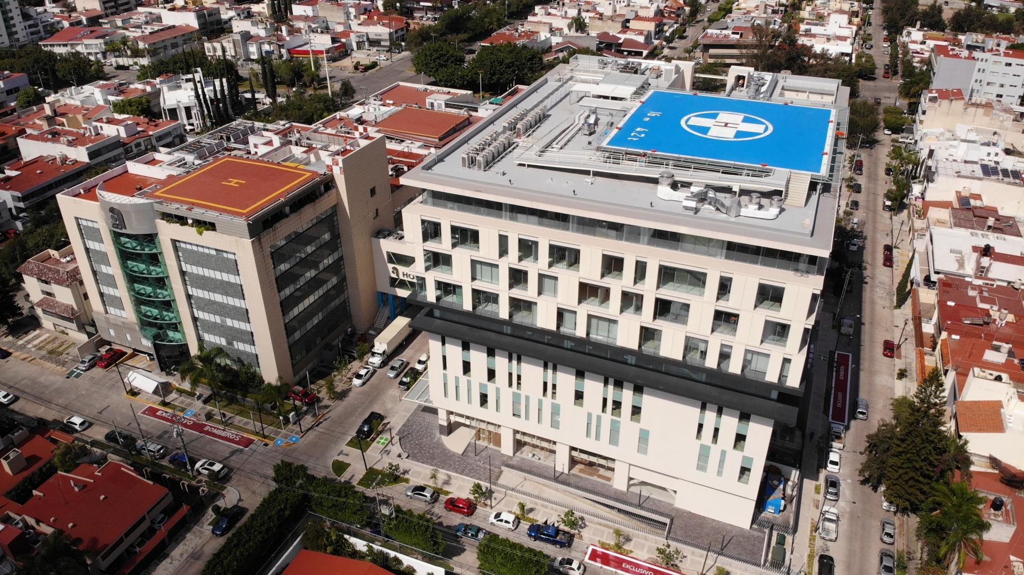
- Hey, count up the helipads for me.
2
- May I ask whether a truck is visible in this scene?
Yes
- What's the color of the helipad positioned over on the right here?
blue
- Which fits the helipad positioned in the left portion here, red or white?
red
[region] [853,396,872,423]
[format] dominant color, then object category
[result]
gray car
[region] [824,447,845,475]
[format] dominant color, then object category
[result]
white car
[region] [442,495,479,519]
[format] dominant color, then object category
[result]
red car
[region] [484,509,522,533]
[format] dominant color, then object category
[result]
white car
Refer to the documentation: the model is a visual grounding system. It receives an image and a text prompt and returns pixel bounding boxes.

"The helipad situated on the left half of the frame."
[139,154,325,238]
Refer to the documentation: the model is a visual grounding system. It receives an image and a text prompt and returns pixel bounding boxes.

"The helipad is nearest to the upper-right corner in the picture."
[598,87,857,190]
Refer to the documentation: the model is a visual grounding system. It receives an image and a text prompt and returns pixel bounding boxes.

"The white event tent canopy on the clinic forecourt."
[125,369,176,406]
